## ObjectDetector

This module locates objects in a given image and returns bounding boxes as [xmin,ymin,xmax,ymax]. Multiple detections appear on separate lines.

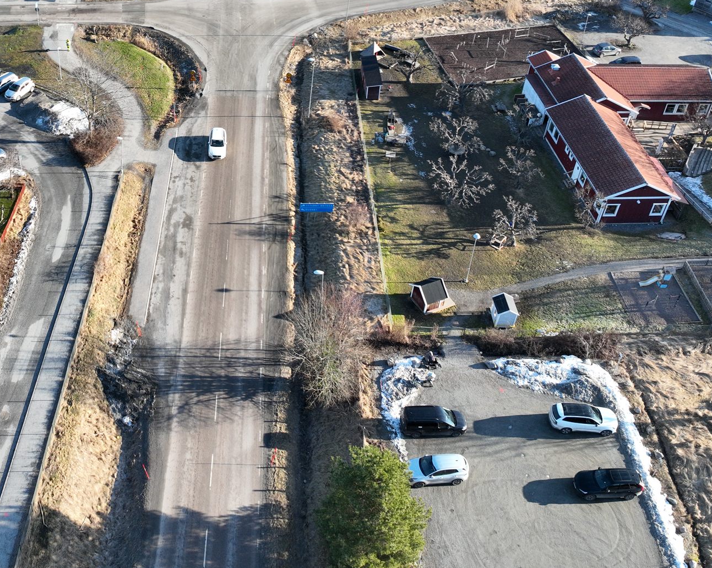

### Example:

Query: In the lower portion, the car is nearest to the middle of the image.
[399,405,471,439]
